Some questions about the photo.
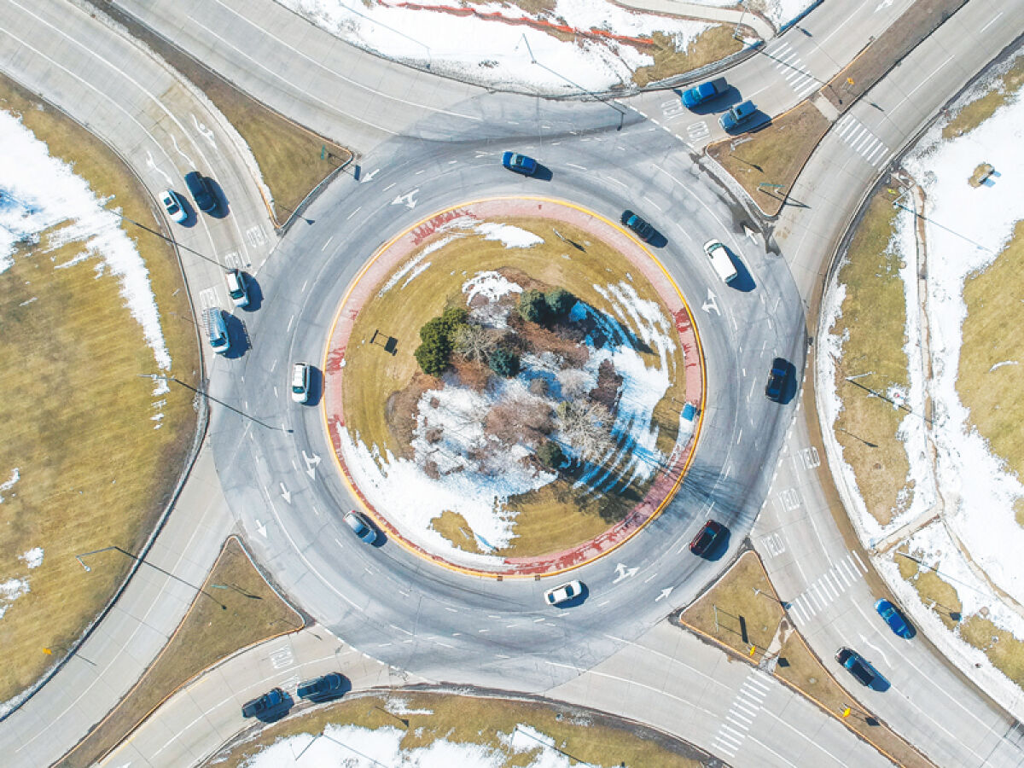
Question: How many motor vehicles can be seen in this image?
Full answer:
My tally gives 18 motor vehicles in this view.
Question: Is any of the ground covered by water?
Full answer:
No, there is no water in the image.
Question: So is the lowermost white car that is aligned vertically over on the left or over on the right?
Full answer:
The lowermost white car that is aligned vertically appears in the left half of the scene.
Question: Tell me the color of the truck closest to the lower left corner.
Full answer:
The truck closest to the lower left corner looks blue in the image.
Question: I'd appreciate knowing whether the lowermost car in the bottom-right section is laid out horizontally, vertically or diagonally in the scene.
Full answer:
The lowermost car in the bottom-right section is oriented diagonally.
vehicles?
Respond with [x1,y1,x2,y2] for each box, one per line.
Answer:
[767,359,788,401]
[223,267,249,308]
[718,97,758,129]
[680,75,731,108]
[542,581,583,606]
[688,520,722,558]
[341,509,376,547]
[294,674,342,702]
[704,237,738,283]
[499,150,537,173]
[836,648,877,690]
[877,599,913,640]
[180,168,214,213]
[238,688,291,720]
[618,208,656,240]
[157,186,186,225]
[290,362,310,403]
[204,307,230,354]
